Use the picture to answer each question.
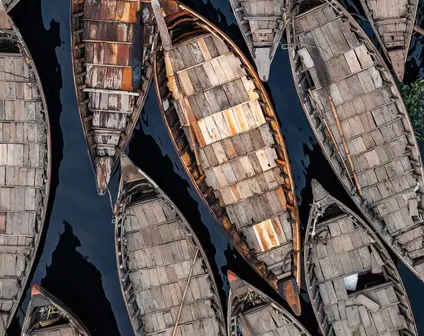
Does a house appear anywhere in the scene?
No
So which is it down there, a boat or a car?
boat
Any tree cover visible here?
No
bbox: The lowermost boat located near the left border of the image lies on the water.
[20,279,90,336]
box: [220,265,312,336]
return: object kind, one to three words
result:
boat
